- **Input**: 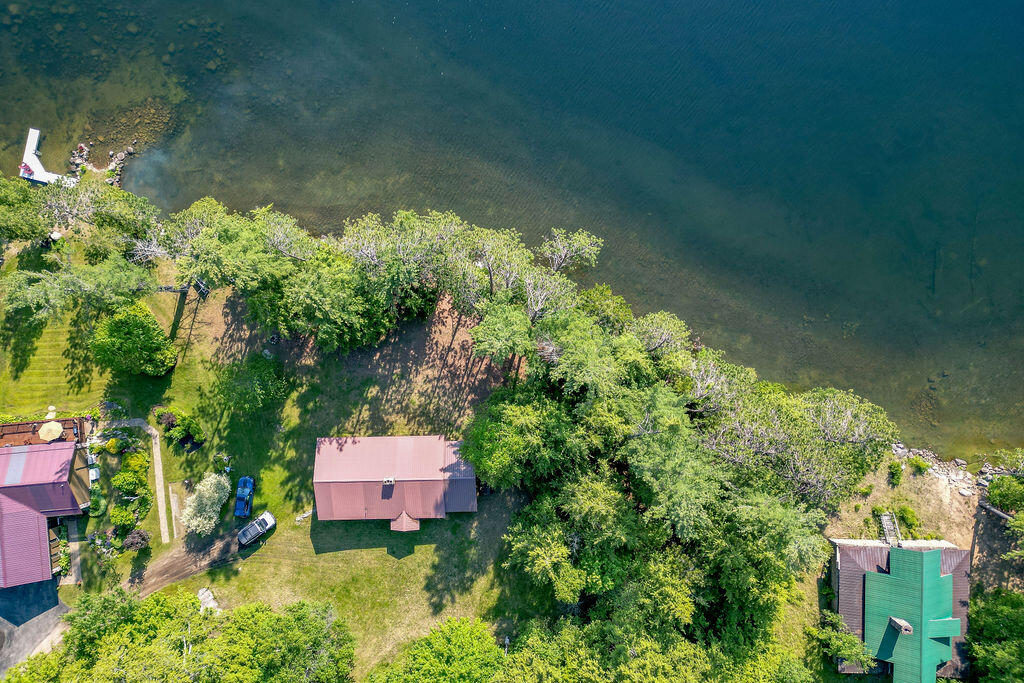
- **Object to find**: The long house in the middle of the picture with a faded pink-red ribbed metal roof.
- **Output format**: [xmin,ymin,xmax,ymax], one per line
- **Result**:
[312,435,477,531]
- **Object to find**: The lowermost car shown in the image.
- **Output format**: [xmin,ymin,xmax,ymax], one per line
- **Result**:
[237,512,278,548]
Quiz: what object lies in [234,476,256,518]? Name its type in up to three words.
car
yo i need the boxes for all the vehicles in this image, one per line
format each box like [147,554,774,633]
[237,512,278,548]
[234,476,256,518]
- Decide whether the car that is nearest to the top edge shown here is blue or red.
blue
